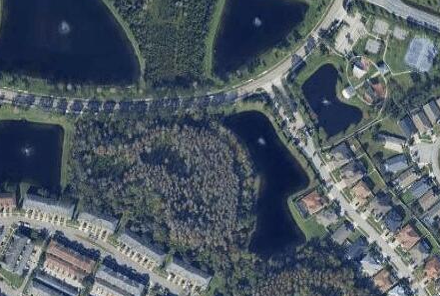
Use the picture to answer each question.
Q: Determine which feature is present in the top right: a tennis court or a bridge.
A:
tennis court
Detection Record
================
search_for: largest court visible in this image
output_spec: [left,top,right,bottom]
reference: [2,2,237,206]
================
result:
[405,36,439,70]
